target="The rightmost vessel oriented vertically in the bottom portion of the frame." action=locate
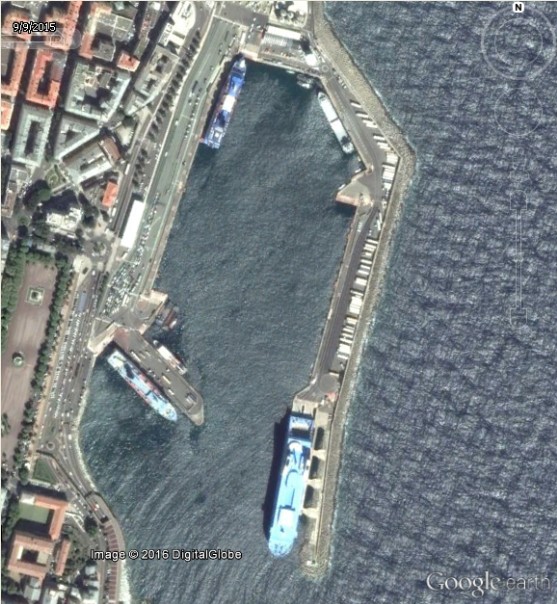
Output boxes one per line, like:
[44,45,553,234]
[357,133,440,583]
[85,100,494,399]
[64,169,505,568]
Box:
[270,415,314,559]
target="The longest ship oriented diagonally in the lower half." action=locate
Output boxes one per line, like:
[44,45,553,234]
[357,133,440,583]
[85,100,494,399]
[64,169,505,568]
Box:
[107,351,176,422]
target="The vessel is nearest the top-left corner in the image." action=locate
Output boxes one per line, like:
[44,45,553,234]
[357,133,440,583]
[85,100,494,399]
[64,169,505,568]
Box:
[204,57,244,150]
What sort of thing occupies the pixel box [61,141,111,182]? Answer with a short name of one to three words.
building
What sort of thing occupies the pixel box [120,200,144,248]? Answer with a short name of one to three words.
building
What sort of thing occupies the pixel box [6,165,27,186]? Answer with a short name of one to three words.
house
